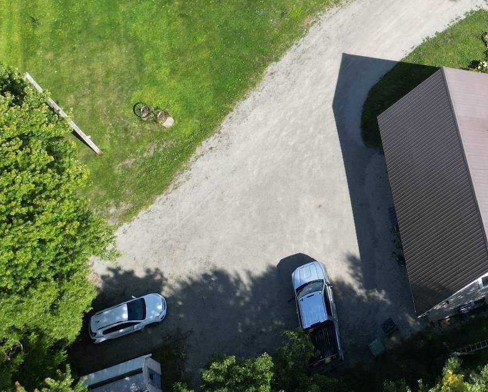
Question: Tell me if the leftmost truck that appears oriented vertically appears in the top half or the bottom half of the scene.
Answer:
bottom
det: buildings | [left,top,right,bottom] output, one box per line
[61,345,165,392]
[379,67,488,323]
